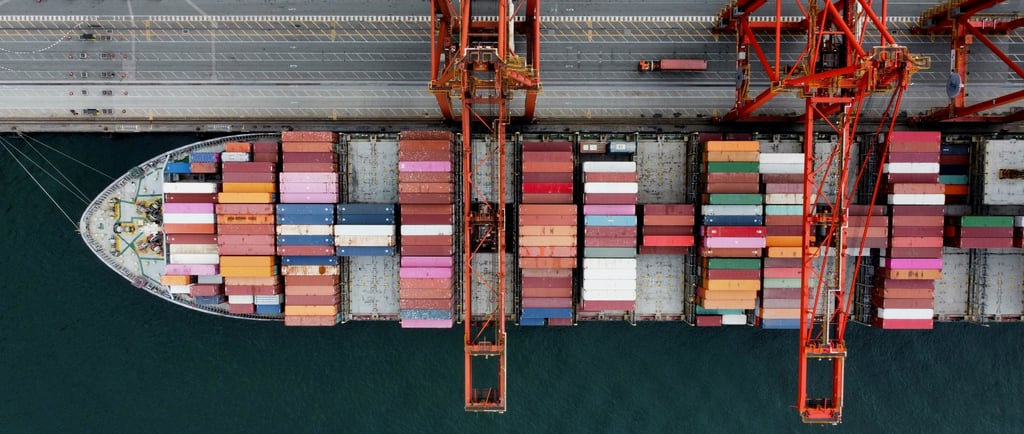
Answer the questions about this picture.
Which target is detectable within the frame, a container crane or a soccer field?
container crane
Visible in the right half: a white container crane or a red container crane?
red container crane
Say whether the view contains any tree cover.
No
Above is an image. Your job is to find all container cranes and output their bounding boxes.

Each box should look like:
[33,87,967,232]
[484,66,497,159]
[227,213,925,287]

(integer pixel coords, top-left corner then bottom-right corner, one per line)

[899,0,1024,123]
[698,0,934,423]
[420,0,550,413]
